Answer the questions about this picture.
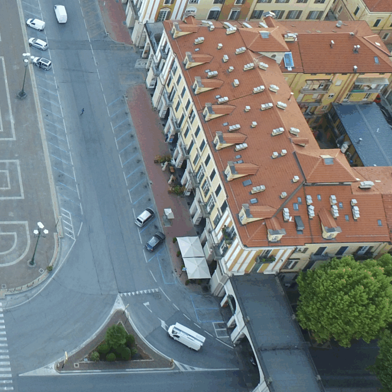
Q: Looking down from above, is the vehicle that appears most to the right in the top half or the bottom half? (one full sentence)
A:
It is in the bottom half that the vehicle that appears most to the right appears.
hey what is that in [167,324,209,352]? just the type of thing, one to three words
vehicle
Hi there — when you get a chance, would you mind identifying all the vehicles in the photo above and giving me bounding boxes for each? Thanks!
[145,231,165,253]
[167,324,209,352]
[25,19,47,31]
[134,207,155,228]
[27,38,50,50]
[32,56,58,69]
[53,7,68,22]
